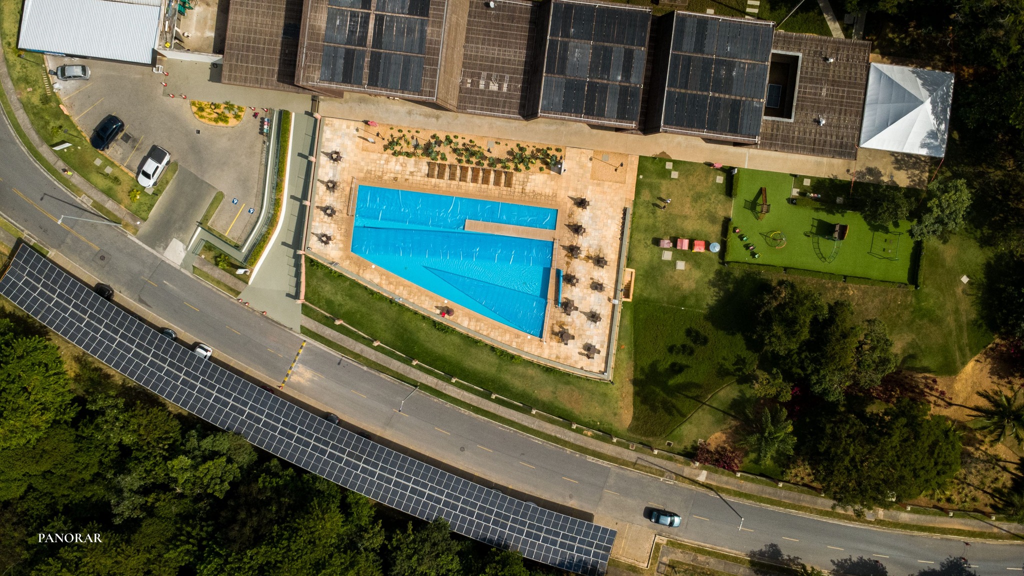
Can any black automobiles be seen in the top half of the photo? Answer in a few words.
Yes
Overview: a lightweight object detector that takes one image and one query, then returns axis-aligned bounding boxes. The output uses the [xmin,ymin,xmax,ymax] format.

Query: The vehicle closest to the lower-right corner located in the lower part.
[648,508,684,531]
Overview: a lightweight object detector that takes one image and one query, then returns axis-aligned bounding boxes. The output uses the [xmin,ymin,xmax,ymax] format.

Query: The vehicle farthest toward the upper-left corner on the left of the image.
[52,62,89,80]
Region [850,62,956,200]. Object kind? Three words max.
tent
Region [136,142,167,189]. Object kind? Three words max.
truck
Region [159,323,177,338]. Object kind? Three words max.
car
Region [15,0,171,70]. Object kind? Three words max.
shed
